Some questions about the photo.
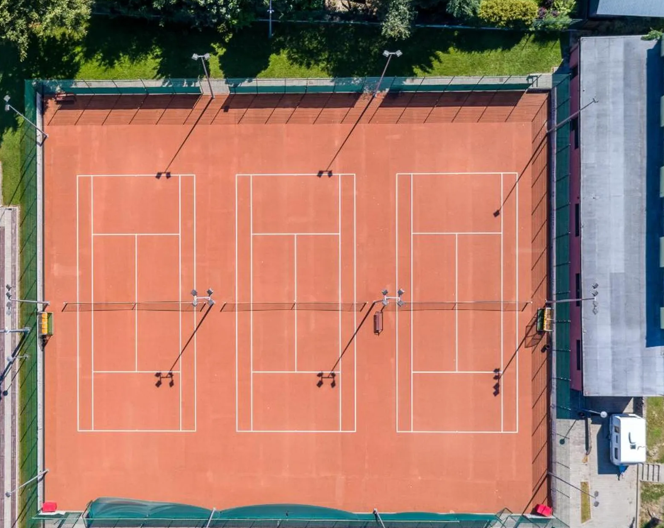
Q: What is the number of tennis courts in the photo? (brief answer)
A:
3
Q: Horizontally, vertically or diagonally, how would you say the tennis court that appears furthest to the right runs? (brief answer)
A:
vertically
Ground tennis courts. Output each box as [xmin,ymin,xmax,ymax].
[73,171,199,436]
[232,169,359,436]
[392,168,522,437]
